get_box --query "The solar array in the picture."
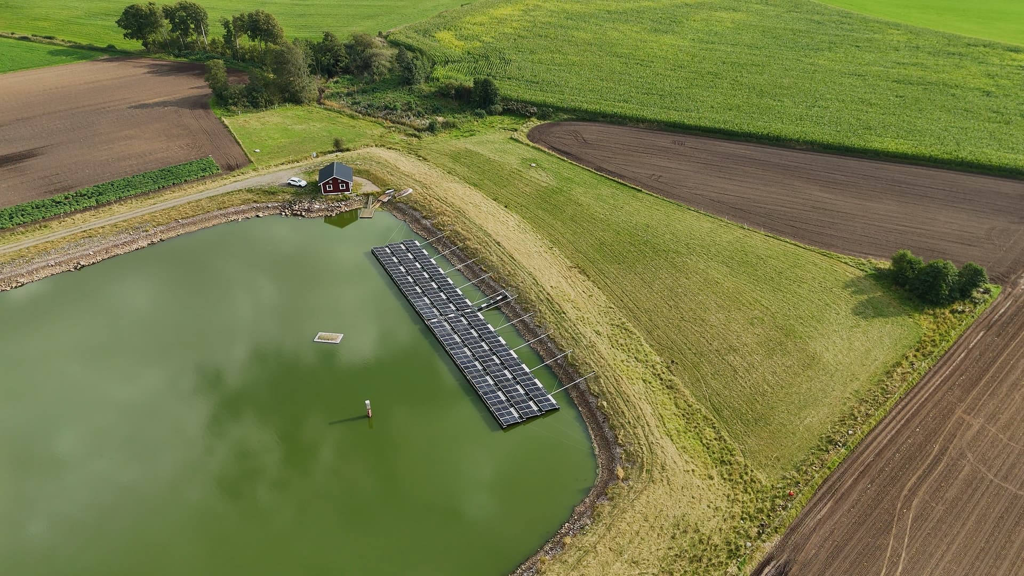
[372,232,596,430]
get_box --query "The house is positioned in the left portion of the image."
[320,161,352,194]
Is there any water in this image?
Yes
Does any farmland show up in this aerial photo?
Yes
